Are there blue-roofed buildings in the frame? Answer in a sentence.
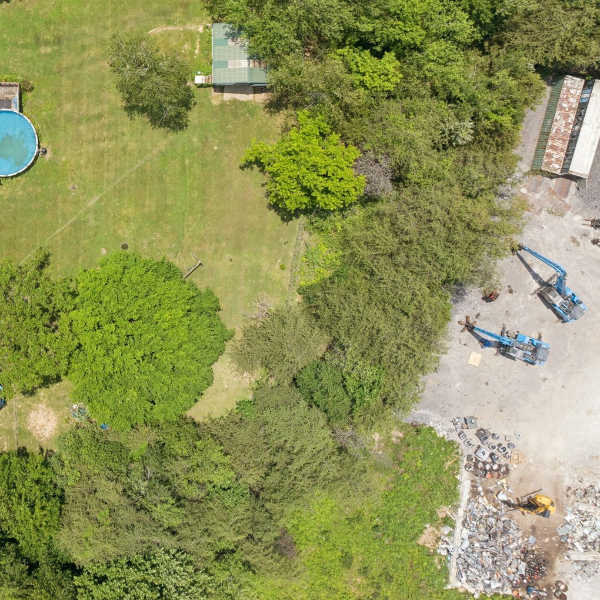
No, this view has no blue-roofed building in it.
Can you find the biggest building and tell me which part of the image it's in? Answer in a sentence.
The biggest building sits in the top section of the image.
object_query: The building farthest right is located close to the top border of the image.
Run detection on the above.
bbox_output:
[209,22,269,86]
